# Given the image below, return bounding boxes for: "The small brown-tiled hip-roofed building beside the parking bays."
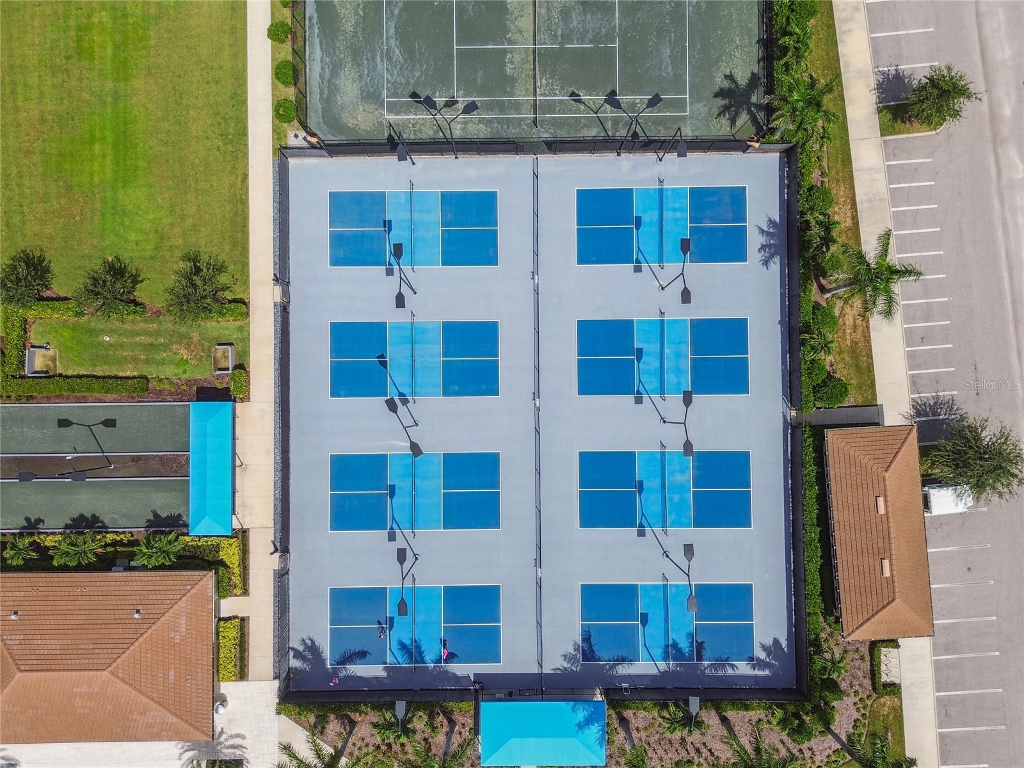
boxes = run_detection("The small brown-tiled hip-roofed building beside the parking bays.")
[825,423,934,642]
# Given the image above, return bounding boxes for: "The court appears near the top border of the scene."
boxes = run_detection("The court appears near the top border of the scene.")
[306,0,759,157]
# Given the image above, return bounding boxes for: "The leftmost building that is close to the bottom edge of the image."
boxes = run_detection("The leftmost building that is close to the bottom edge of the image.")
[0,569,220,744]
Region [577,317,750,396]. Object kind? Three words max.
sports court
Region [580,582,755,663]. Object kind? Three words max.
sports court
